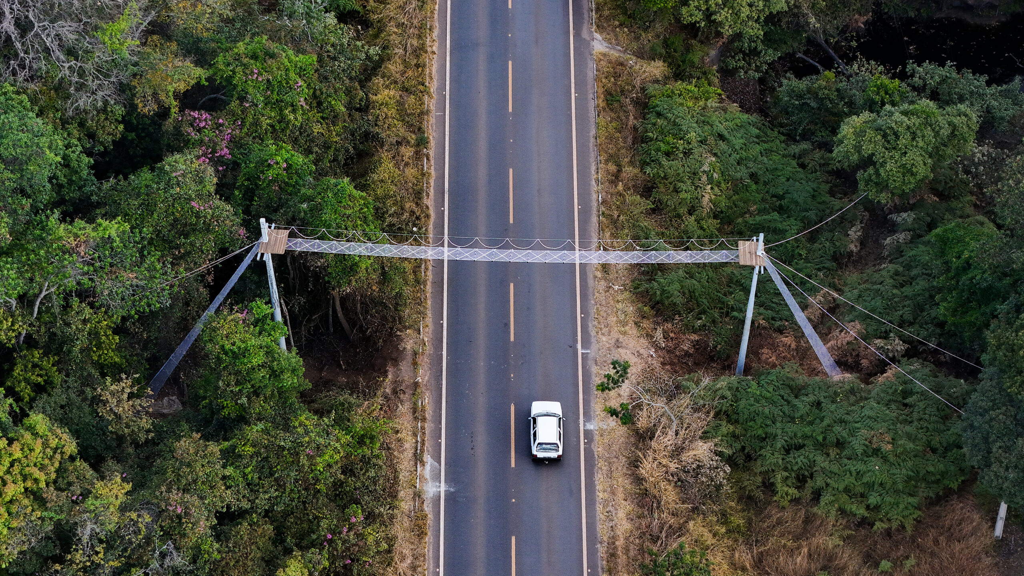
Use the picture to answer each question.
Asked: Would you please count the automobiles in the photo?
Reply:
1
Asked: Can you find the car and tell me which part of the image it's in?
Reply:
bottom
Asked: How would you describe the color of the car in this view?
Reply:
white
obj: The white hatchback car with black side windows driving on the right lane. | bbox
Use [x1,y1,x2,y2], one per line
[528,401,566,462]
